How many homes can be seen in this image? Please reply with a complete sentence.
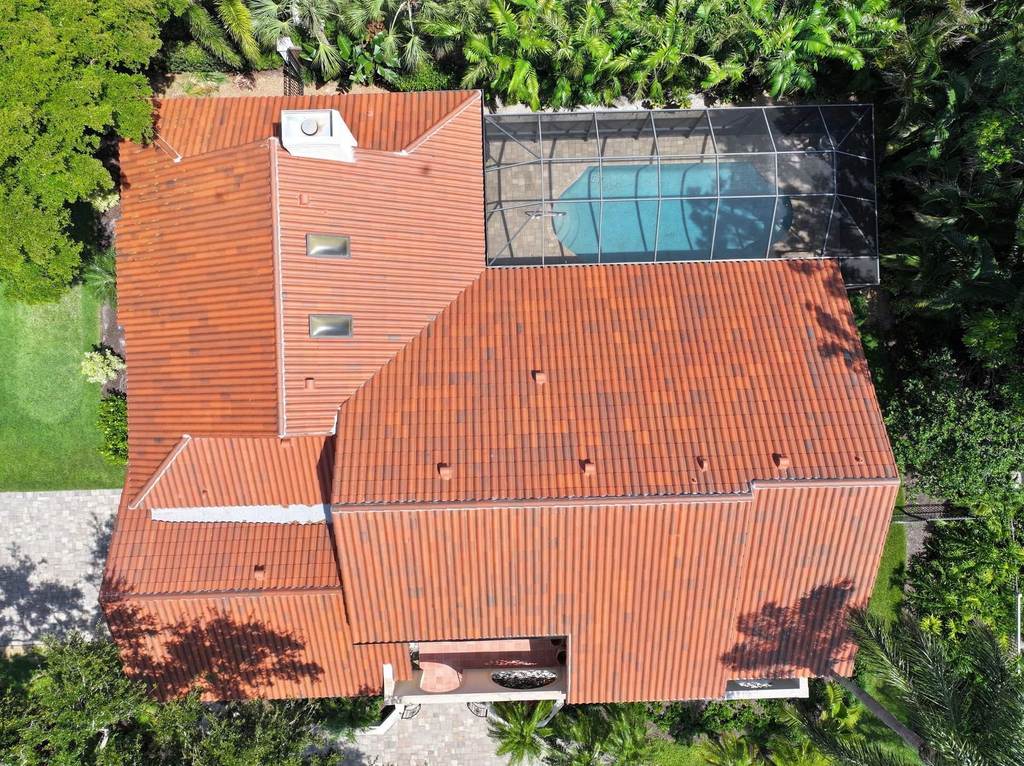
Just 1 home appears in this view.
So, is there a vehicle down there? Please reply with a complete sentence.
No, no vehicle is visible in the scene.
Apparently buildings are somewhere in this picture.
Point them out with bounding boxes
[92,88,905,707]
